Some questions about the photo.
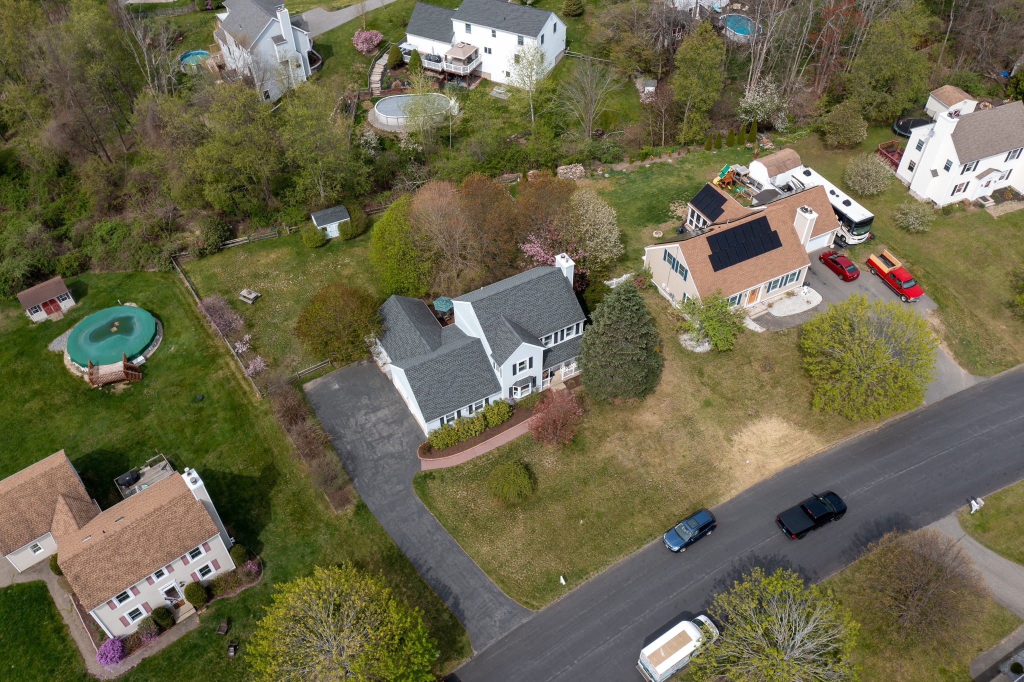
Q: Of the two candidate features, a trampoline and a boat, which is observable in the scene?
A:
trampoline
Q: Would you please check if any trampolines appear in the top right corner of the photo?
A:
Yes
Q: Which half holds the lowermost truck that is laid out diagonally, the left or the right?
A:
right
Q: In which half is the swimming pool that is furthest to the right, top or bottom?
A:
top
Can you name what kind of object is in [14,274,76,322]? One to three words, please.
shed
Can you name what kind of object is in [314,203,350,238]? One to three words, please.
shed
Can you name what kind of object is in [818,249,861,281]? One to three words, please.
car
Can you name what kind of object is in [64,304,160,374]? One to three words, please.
swimming pool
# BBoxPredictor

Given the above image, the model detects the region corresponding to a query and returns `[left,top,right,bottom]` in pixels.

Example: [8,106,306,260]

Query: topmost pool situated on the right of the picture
[719,13,759,44]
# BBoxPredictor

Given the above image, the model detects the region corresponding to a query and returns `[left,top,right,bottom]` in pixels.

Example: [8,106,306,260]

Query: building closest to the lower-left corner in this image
[0,448,233,639]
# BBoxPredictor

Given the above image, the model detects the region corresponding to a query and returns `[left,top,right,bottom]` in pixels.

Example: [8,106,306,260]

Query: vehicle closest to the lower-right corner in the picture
[777,491,853,540]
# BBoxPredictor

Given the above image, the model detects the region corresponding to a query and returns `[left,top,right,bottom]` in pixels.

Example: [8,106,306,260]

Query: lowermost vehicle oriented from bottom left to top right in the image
[632,614,722,682]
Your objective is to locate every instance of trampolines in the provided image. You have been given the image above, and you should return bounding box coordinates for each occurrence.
[892,107,935,141]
